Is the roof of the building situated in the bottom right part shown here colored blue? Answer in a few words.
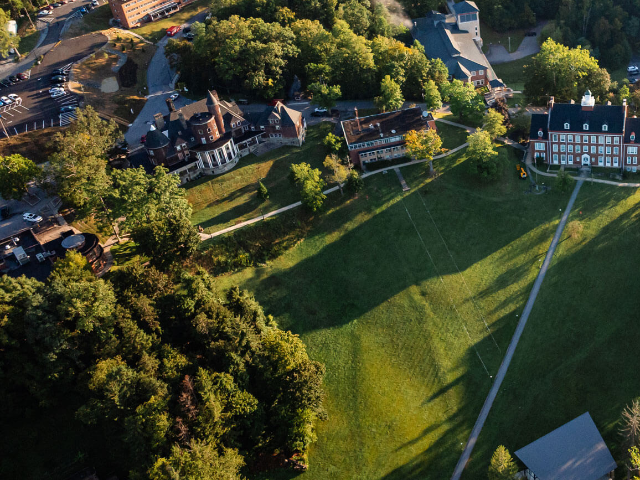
Yes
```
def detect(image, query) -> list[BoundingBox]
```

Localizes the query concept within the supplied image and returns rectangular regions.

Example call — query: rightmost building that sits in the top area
[531,86,640,174]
